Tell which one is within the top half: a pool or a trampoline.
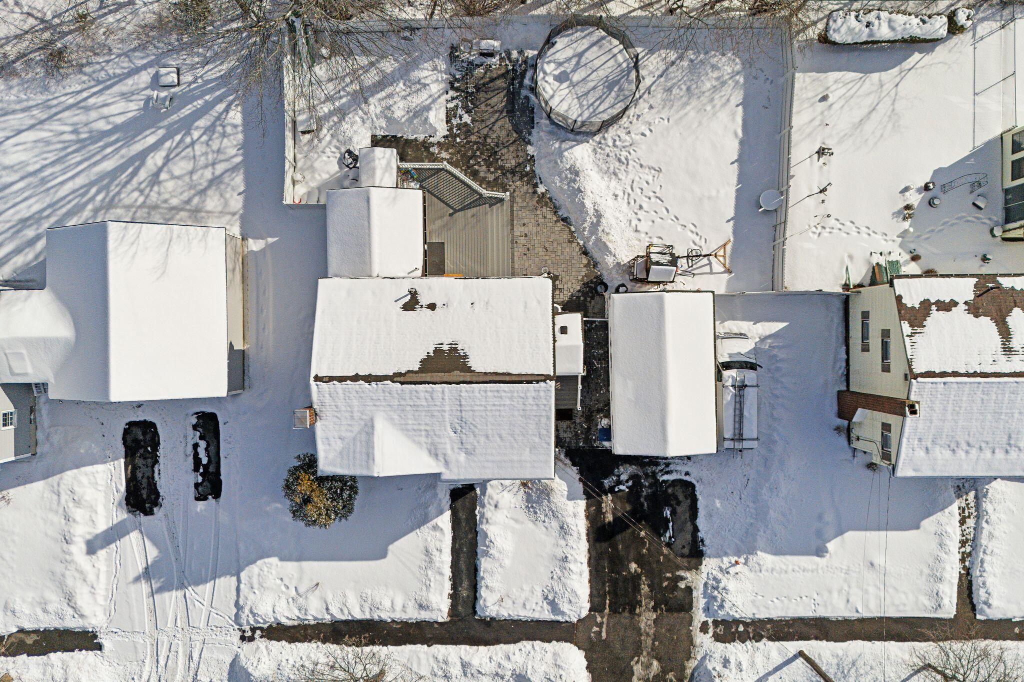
trampoline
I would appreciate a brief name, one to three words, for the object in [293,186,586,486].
house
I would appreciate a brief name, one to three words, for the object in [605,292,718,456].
building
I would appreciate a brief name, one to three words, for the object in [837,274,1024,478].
house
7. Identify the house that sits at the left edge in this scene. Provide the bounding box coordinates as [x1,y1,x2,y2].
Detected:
[0,220,248,462]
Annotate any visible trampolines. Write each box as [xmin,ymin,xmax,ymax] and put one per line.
[535,21,638,136]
